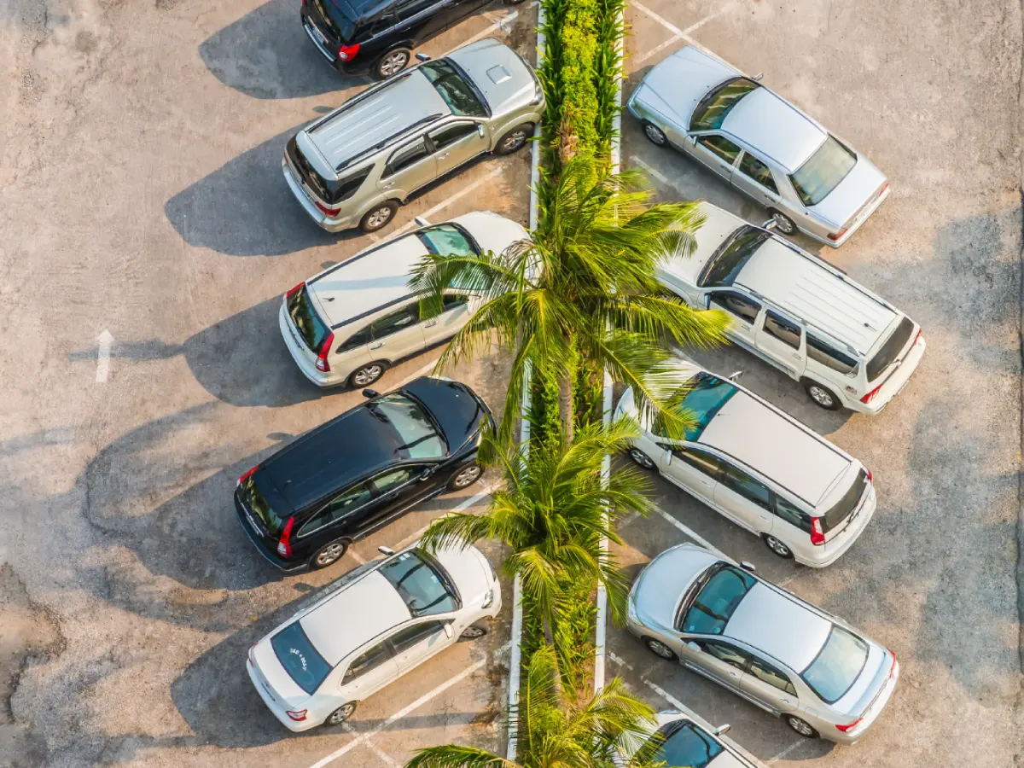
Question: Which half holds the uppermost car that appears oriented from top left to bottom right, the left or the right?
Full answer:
The uppermost car that appears oriented from top left to bottom right is on the right side of the image.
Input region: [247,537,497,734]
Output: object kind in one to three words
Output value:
car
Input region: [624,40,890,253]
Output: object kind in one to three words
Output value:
car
